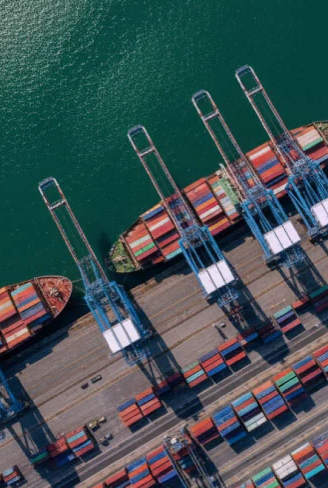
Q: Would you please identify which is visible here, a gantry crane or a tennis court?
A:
gantry crane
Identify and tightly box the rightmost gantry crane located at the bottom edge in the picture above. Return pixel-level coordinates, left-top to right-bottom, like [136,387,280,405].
[152,418,222,488]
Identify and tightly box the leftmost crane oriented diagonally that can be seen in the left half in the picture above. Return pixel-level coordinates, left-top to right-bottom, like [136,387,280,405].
[35,174,167,362]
